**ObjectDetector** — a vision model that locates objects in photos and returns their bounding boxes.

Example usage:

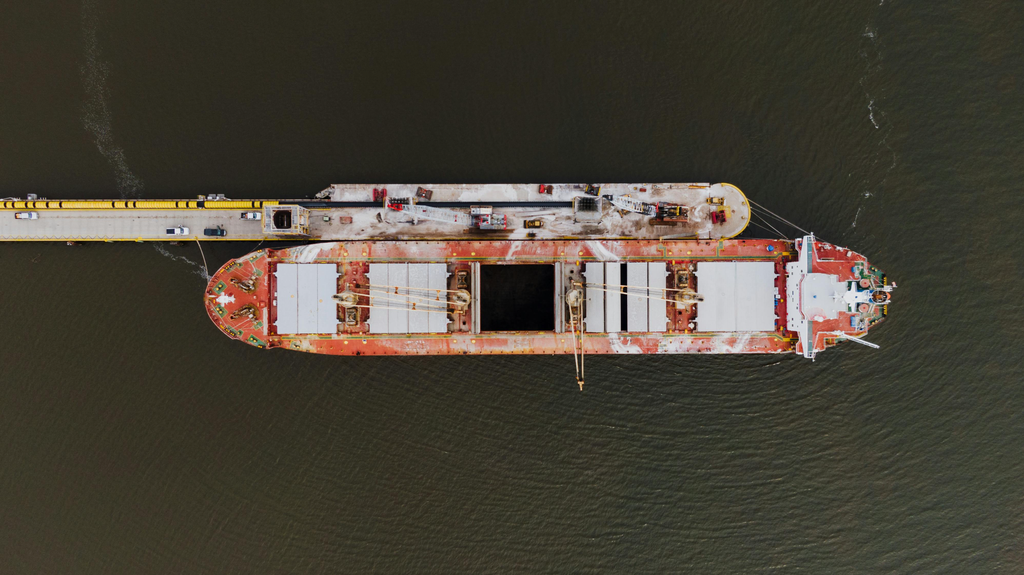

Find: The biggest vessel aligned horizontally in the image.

[205,232,893,390]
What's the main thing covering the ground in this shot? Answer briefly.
water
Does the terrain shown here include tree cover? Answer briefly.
No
